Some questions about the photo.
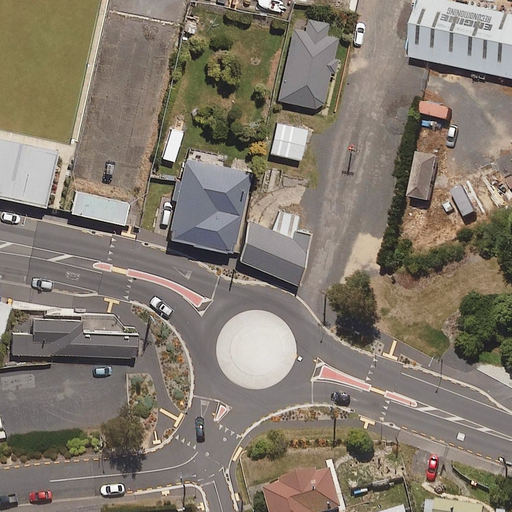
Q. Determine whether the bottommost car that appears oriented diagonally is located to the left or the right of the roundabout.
left of it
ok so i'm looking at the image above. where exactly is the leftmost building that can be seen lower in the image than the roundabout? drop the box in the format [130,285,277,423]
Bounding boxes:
[262,466,340,512]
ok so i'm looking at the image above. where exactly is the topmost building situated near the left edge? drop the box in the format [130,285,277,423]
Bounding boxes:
[0,138,58,208]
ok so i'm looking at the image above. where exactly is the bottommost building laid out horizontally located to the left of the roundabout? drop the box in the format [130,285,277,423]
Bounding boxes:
[11,302,139,366]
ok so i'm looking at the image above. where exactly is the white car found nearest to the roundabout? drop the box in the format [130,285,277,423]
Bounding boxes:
[150,297,173,317]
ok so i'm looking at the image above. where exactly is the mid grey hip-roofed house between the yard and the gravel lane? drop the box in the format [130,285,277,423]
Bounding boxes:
[278,19,339,110]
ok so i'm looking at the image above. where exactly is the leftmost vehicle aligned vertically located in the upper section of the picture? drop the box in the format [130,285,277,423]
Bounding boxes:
[103,160,115,184]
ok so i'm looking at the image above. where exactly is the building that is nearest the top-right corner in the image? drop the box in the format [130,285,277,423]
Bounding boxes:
[408,0,512,79]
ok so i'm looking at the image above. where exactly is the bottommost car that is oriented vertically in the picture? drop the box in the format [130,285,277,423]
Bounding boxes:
[426,454,438,482]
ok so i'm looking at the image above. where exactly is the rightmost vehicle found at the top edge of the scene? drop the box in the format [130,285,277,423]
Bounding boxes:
[354,22,366,48]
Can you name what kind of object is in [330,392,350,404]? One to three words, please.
vehicle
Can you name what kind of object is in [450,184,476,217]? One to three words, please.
shed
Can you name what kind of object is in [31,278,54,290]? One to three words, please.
vehicle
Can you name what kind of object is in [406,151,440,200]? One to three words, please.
house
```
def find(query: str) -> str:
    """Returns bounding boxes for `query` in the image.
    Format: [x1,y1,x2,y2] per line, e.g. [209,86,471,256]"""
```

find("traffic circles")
[216,310,296,390]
